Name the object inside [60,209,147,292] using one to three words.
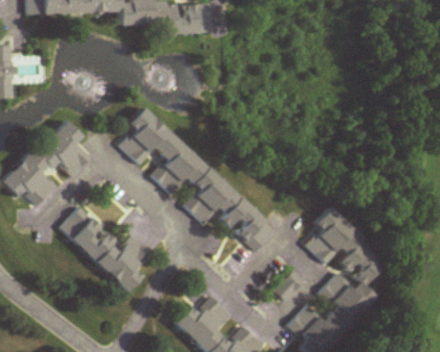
house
